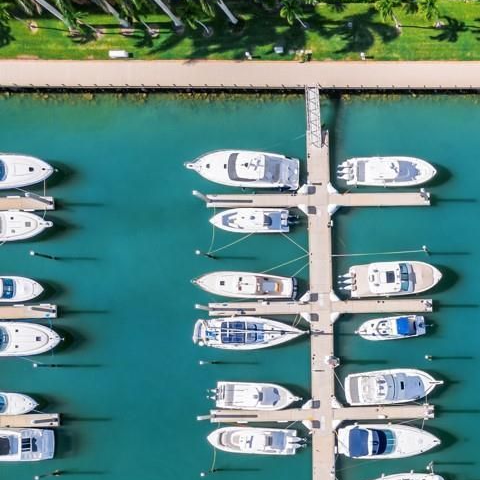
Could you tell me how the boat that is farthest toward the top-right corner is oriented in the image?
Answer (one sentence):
The boat that is farthest toward the top-right corner is oriented from left to right.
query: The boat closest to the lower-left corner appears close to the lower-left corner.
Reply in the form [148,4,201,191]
[0,429,56,461]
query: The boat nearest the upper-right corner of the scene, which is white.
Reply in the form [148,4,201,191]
[340,155,437,190]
